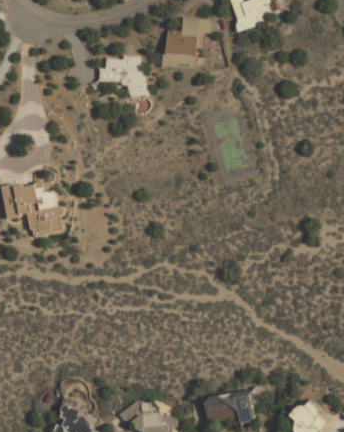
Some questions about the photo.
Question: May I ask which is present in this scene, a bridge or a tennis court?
tennis court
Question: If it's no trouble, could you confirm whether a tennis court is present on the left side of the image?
No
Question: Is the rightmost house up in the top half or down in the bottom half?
bottom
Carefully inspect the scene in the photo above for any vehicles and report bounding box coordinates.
[220,21,225,31]
[44,394,50,404]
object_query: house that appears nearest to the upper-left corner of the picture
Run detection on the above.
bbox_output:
[98,56,150,98]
